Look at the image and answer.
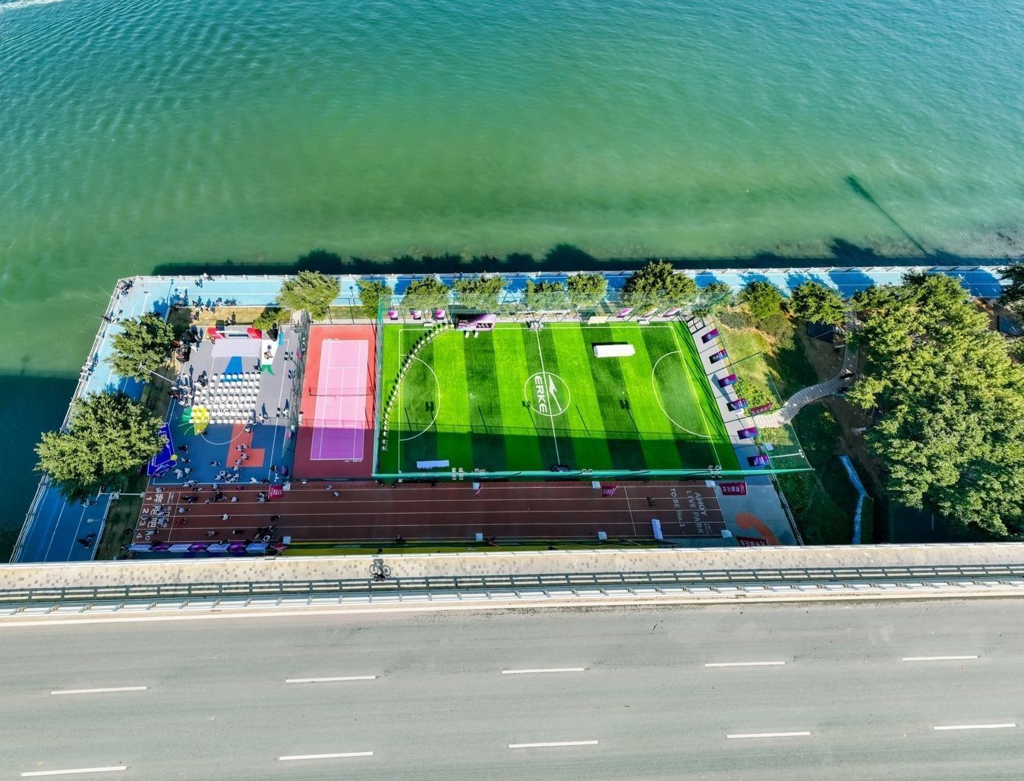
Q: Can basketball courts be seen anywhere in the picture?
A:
Yes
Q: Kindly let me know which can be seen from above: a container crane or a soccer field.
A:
soccer field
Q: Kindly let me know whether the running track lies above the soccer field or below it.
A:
below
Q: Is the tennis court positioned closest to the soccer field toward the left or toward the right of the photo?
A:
left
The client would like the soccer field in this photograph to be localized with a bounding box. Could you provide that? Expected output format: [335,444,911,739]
[376,329,745,490]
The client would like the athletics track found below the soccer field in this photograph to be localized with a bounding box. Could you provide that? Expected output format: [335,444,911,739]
[131,486,728,551]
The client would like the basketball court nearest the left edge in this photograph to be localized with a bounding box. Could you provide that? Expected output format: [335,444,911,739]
[148,333,309,494]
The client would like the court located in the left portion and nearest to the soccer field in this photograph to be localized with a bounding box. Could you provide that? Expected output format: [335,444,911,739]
[293,333,376,486]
